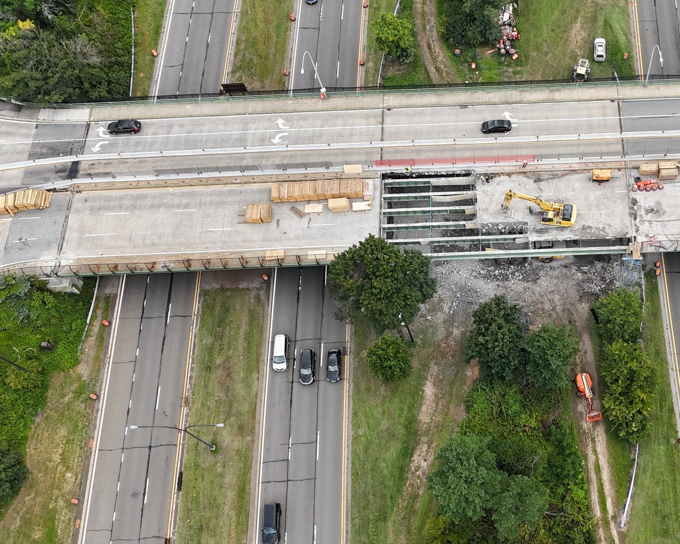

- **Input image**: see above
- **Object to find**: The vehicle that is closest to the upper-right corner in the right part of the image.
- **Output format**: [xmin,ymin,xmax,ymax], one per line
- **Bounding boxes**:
[593,38,607,63]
